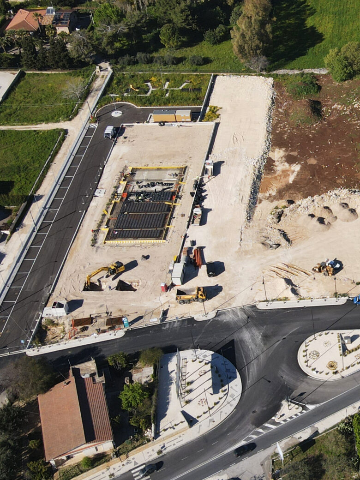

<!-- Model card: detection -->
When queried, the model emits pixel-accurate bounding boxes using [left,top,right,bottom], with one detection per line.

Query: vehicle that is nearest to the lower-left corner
[136,462,160,479]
